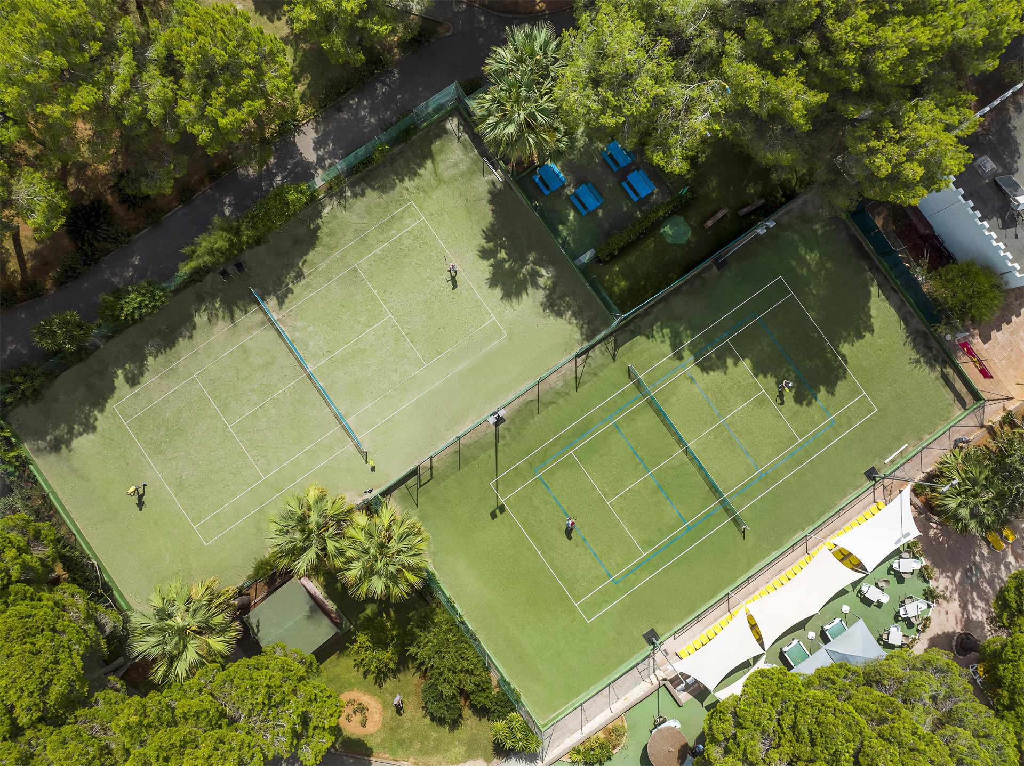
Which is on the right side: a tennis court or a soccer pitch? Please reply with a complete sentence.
There is a tennis court on the right side.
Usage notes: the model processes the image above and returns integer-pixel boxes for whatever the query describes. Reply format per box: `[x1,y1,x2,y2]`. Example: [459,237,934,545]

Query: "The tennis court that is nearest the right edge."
[385,188,981,726]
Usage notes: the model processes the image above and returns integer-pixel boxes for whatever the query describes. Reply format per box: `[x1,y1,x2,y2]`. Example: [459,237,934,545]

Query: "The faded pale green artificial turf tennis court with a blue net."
[3,108,619,641]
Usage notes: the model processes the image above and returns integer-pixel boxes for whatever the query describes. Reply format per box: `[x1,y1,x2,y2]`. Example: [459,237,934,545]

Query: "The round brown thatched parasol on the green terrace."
[647,726,687,766]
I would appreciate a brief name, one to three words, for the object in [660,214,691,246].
umbrella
